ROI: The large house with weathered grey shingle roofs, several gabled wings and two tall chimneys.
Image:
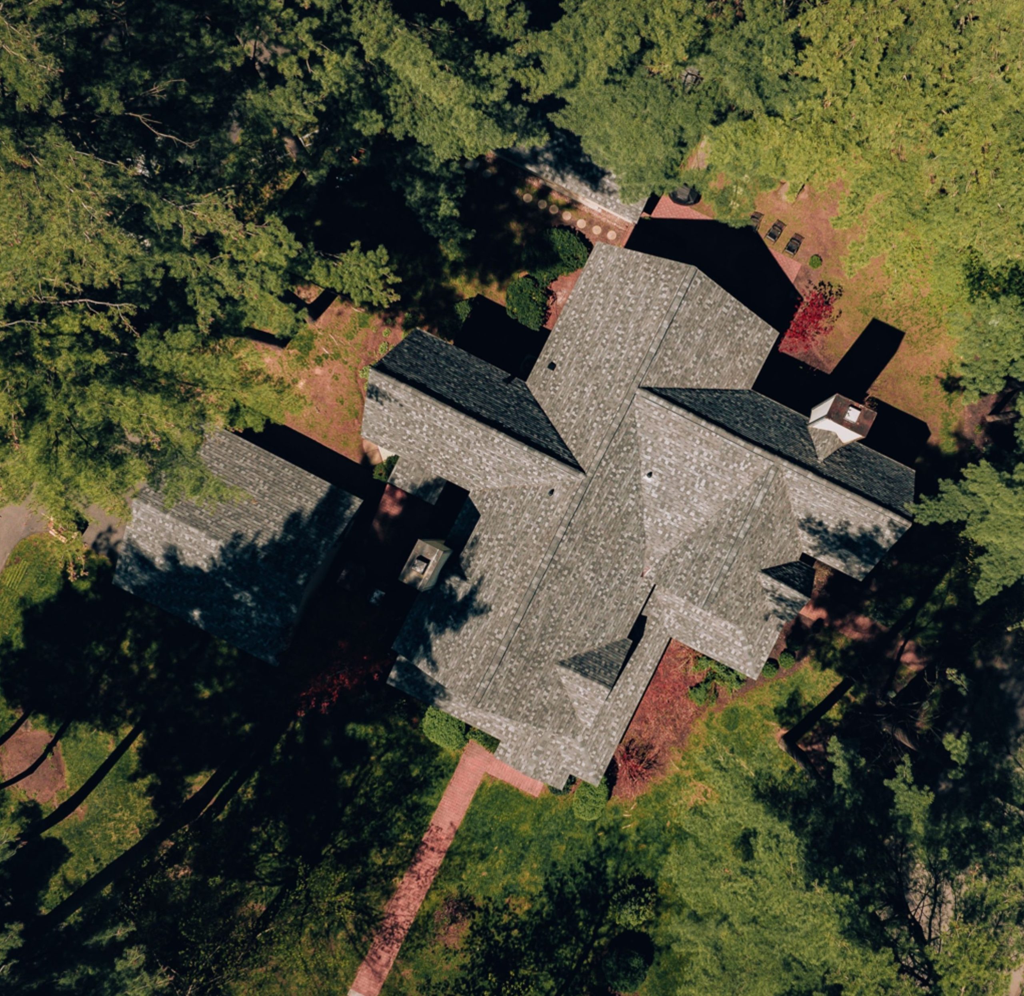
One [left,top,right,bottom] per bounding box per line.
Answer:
[361,244,916,791]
